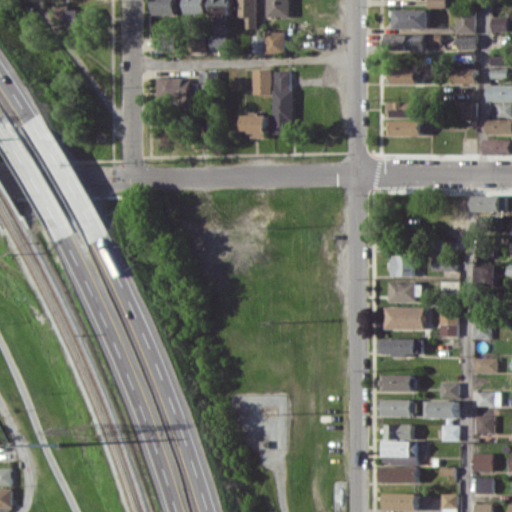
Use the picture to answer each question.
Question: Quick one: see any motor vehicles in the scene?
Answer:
Yes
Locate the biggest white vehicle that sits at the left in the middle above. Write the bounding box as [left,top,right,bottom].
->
[98,240,122,280]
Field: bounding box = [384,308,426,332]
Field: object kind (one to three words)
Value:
house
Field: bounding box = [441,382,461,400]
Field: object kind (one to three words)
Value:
building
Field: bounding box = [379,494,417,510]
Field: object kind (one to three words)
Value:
house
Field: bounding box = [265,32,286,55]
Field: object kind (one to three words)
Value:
building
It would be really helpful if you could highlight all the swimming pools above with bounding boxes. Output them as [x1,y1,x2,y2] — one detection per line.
[476,342,491,356]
